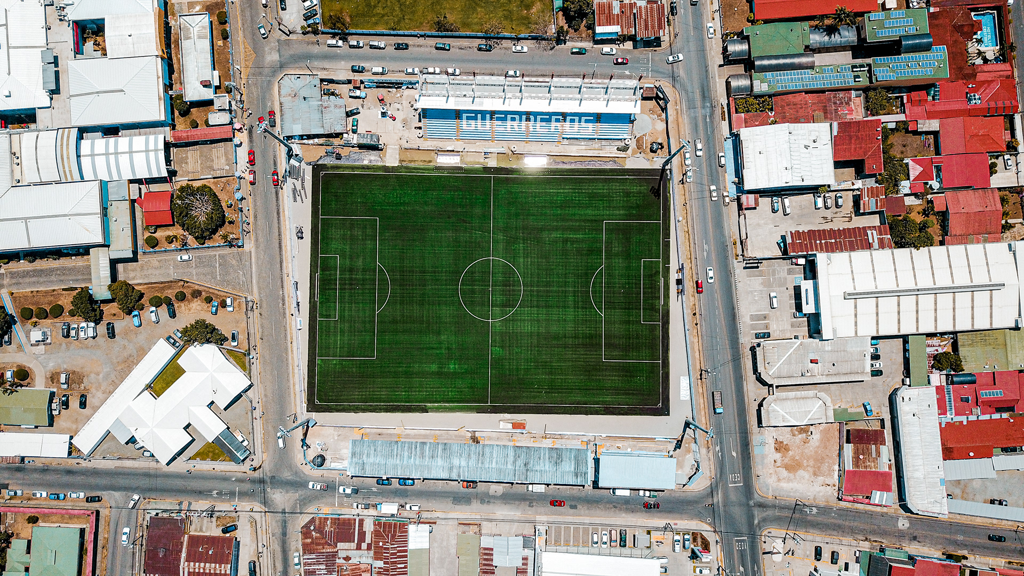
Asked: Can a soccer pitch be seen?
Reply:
Yes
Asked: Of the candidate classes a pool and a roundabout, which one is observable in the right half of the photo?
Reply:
pool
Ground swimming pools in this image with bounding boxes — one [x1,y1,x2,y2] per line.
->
[971,11,996,50]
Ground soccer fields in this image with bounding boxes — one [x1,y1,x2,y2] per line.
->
[307,164,670,416]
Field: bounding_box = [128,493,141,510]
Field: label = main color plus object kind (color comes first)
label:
white vehicle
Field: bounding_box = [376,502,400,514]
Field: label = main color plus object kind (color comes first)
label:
white vehicle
